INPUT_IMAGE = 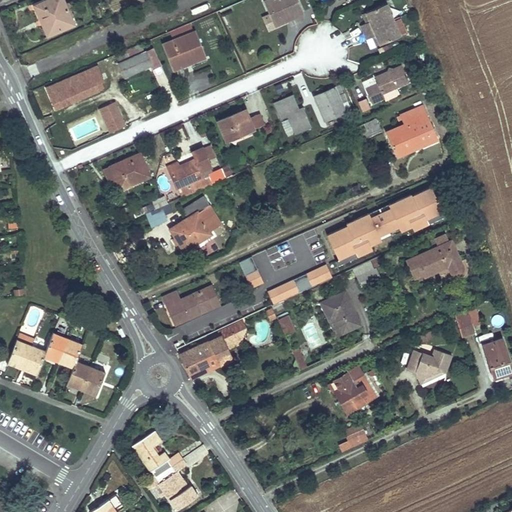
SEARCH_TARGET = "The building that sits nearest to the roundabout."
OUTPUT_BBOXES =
[179,319,250,376]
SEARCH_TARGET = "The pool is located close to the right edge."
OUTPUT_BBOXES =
[492,314,505,328]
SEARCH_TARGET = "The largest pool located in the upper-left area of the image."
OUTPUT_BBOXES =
[66,109,108,146]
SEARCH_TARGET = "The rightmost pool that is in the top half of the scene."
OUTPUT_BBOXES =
[157,173,171,192]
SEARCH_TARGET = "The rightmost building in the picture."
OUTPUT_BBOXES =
[482,339,512,381]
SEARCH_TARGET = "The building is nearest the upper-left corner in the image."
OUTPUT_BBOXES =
[28,0,78,38]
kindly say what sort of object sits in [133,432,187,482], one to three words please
house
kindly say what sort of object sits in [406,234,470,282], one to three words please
house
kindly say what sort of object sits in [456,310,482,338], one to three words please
building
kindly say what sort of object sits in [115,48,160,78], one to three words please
shed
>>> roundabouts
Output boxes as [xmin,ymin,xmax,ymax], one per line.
[132,348,185,399]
